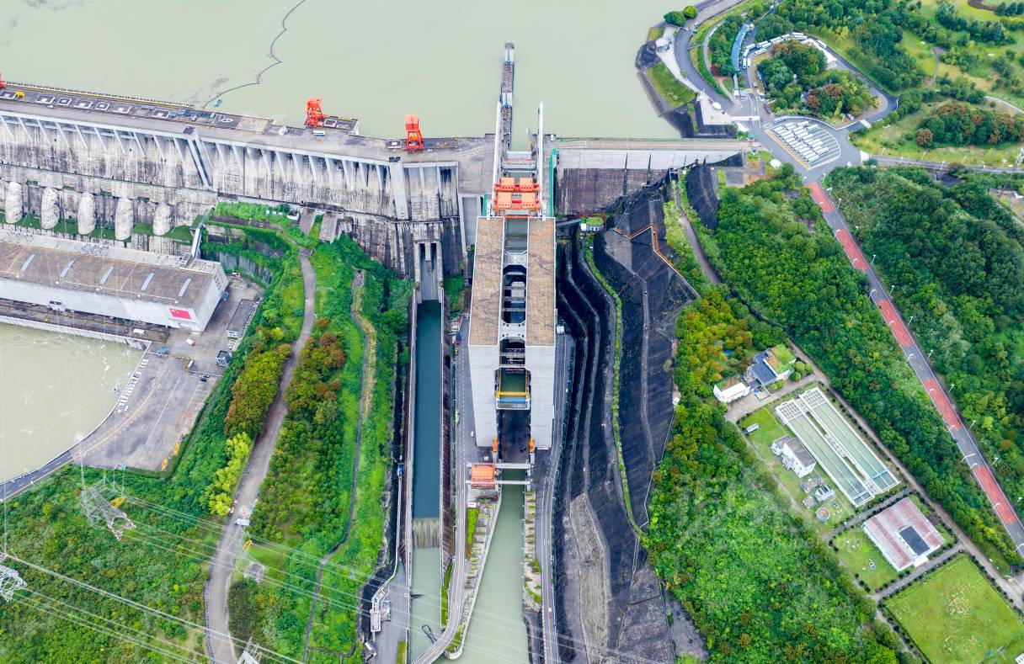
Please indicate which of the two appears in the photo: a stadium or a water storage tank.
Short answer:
water storage tank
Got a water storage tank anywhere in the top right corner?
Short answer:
No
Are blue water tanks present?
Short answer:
No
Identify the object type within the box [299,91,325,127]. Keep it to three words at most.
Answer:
container crane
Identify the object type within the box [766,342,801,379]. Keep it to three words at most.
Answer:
building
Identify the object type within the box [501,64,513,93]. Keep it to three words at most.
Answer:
pier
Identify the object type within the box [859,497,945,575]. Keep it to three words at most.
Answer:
building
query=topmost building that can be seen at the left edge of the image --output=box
[0,231,230,332]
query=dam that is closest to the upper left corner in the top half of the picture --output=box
[0,82,464,301]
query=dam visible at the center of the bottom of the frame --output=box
[412,518,442,546]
